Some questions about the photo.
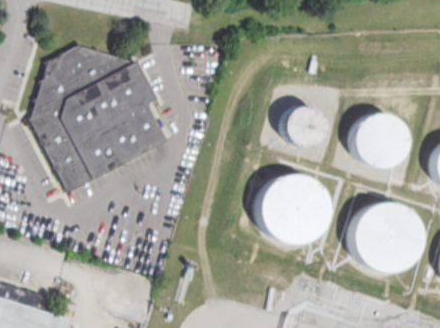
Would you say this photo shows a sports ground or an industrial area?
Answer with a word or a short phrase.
industrial area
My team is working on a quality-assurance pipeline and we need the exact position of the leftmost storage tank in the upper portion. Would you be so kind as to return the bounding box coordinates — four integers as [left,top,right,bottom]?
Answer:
[278,104,330,149]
